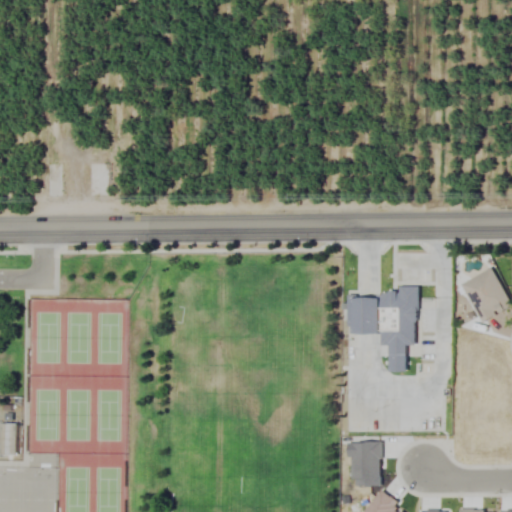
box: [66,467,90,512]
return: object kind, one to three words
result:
tennis court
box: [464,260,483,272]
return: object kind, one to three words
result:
swimming pool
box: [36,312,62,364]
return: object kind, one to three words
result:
tennis court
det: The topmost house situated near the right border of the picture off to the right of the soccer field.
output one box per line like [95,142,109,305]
[464,268,512,318]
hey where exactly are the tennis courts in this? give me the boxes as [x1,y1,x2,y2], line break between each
[36,312,62,364]
[67,312,92,364]
[94,468,122,512]
[66,467,90,512]
[34,390,60,441]
[95,390,122,442]
[98,312,124,364]
[66,390,93,442]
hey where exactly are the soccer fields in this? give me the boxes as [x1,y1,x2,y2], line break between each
[130,253,342,512]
